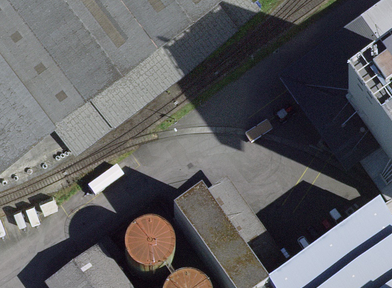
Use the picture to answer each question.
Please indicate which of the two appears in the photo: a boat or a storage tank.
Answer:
storage tank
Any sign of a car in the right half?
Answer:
Yes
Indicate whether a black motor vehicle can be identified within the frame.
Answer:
Yes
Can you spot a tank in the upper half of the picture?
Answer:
No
